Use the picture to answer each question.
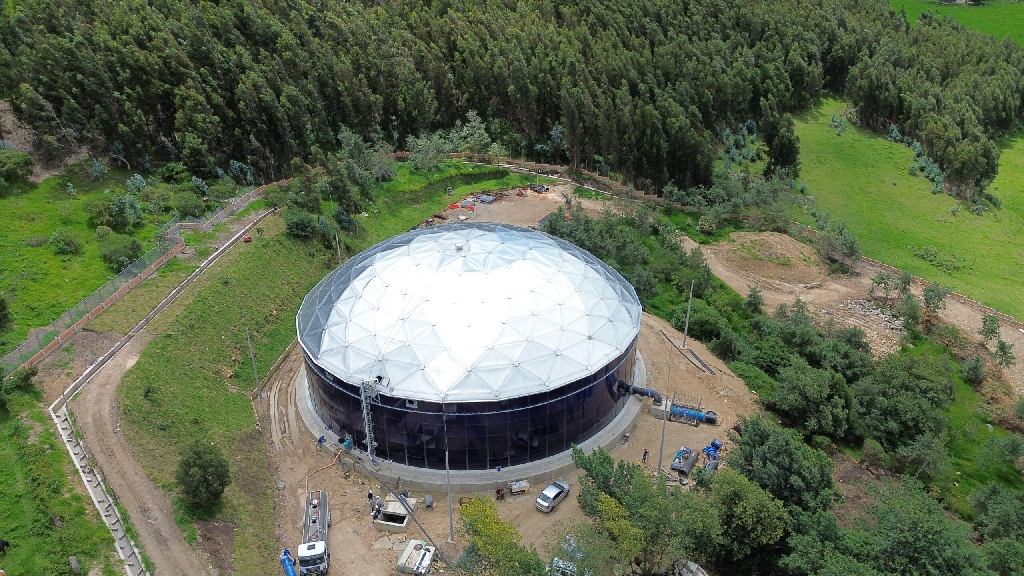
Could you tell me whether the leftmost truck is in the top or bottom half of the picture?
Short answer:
bottom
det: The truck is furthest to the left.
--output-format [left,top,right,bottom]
[298,497,334,575]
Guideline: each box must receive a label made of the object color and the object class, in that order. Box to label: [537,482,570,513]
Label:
gray car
